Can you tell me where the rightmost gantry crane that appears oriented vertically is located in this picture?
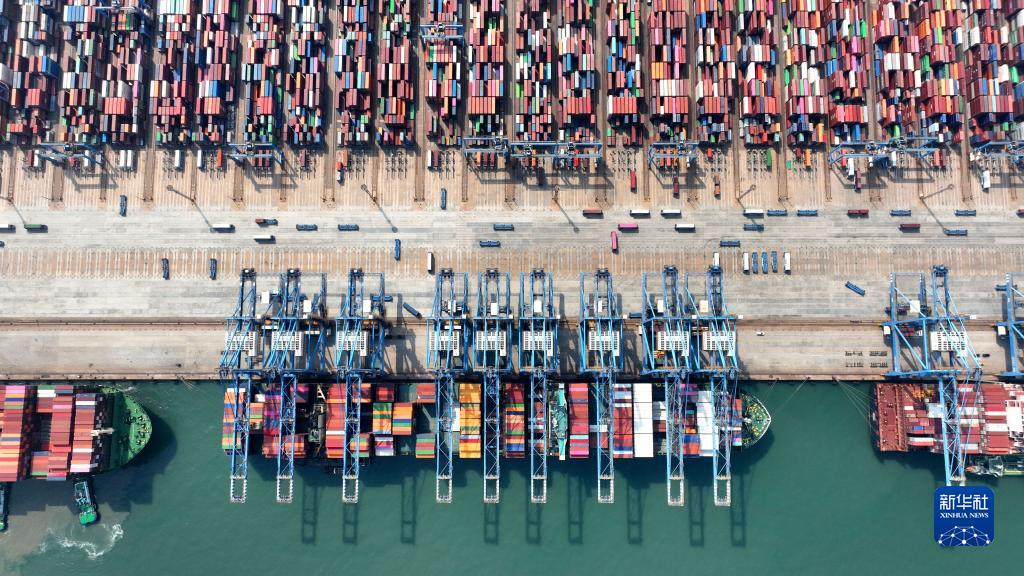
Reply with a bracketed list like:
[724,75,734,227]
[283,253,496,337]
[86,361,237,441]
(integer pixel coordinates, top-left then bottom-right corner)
[993,272,1024,377]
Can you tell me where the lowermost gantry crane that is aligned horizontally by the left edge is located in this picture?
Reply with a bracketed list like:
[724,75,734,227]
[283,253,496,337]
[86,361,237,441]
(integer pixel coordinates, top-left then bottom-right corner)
[40,141,106,168]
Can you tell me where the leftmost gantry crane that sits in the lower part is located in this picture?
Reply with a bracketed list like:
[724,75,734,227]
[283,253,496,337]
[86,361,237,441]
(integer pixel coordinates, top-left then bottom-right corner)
[216,265,293,503]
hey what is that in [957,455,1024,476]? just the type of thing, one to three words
vessel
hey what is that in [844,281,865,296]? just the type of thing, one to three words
vehicle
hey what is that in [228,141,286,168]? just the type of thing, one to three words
container crane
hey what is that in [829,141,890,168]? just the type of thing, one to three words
container crane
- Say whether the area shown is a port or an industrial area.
port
